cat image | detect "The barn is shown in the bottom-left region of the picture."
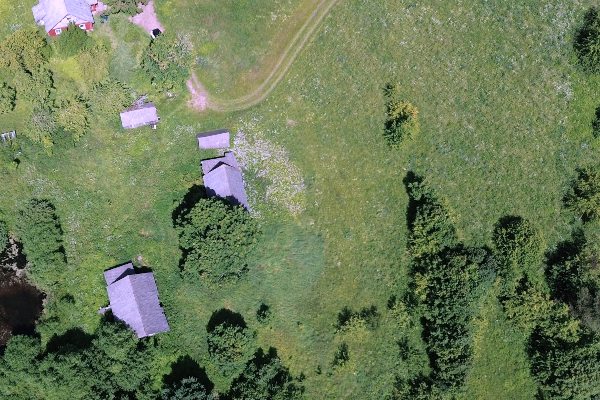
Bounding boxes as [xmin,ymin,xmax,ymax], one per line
[104,263,170,342]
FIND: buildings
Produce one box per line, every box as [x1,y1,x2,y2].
[104,263,170,342]
[200,152,249,219]
[32,0,98,38]
[120,101,157,130]
[196,129,229,150]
